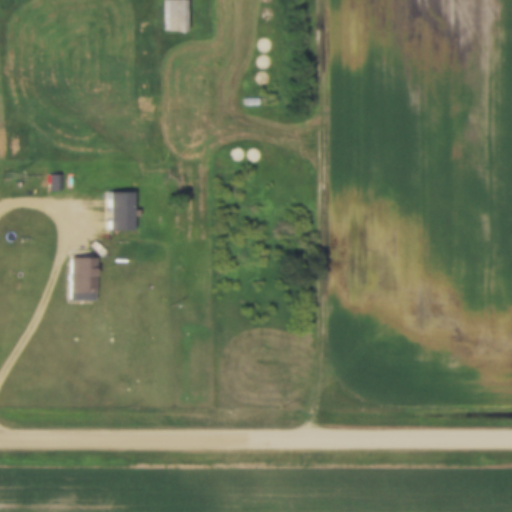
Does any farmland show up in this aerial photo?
Yes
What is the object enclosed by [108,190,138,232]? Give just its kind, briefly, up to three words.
shed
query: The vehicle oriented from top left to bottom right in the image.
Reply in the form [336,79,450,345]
[92,242,106,258]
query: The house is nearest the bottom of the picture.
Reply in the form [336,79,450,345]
[70,256,102,300]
